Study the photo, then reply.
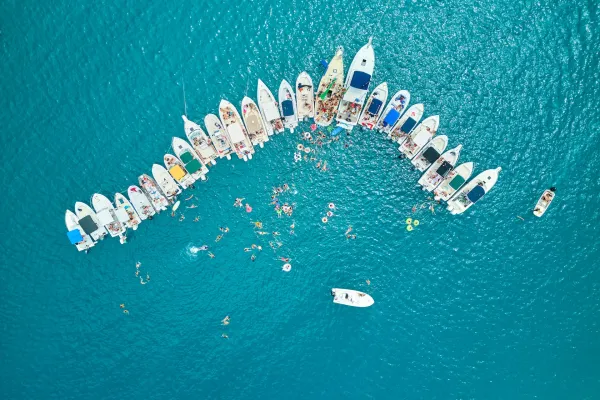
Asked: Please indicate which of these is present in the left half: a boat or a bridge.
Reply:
boat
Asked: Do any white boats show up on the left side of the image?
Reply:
Yes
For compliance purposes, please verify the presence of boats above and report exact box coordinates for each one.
[335,37,373,132]
[74,201,110,244]
[152,163,182,200]
[91,193,129,240]
[278,79,299,131]
[313,47,342,128]
[172,137,209,182]
[536,189,555,217]
[357,82,388,132]
[397,115,439,161]
[416,145,462,193]
[127,186,157,222]
[445,167,502,216]
[220,99,255,161]
[257,79,285,138]
[181,115,219,167]
[64,210,95,252]
[243,97,270,148]
[114,192,143,230]
[163,153,197,192]
[433,162,473,204]
[206,114,234,158]
[330,287,374,308]
[295,71,315,123]
[376,90,410,136]
[389,104,424,146]
[139,173,170,213]
[410,135,448,173]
